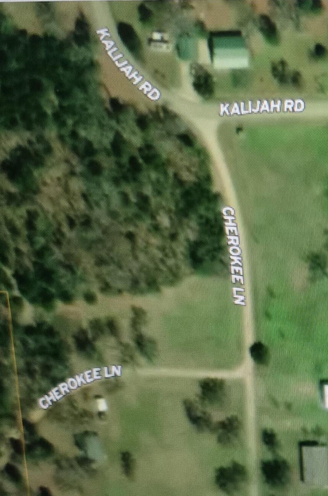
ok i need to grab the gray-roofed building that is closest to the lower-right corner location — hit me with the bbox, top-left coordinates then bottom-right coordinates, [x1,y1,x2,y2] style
[301,446,328,487]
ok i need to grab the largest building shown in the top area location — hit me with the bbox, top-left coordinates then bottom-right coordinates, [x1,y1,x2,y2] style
[210,34,249,68]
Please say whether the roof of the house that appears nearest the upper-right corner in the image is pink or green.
green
